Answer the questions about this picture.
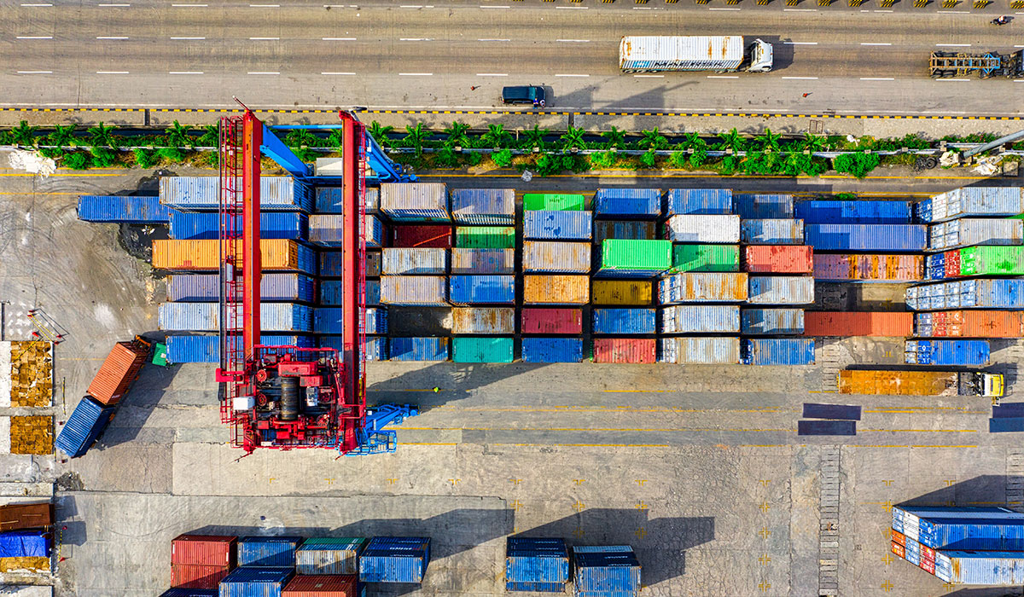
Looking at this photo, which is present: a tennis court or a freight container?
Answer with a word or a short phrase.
freight container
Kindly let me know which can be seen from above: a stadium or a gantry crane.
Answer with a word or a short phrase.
gantry crane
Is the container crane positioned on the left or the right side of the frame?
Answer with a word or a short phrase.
left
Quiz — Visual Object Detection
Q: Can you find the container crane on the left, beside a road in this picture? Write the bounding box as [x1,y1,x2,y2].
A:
[214,90,426,464]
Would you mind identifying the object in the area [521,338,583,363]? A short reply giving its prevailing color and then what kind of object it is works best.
blue shipping container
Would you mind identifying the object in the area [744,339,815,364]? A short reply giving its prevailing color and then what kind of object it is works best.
blue shipping container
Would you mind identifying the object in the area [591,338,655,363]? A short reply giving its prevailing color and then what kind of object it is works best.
red shipping container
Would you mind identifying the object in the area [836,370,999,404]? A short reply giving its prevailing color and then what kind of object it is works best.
orange truck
